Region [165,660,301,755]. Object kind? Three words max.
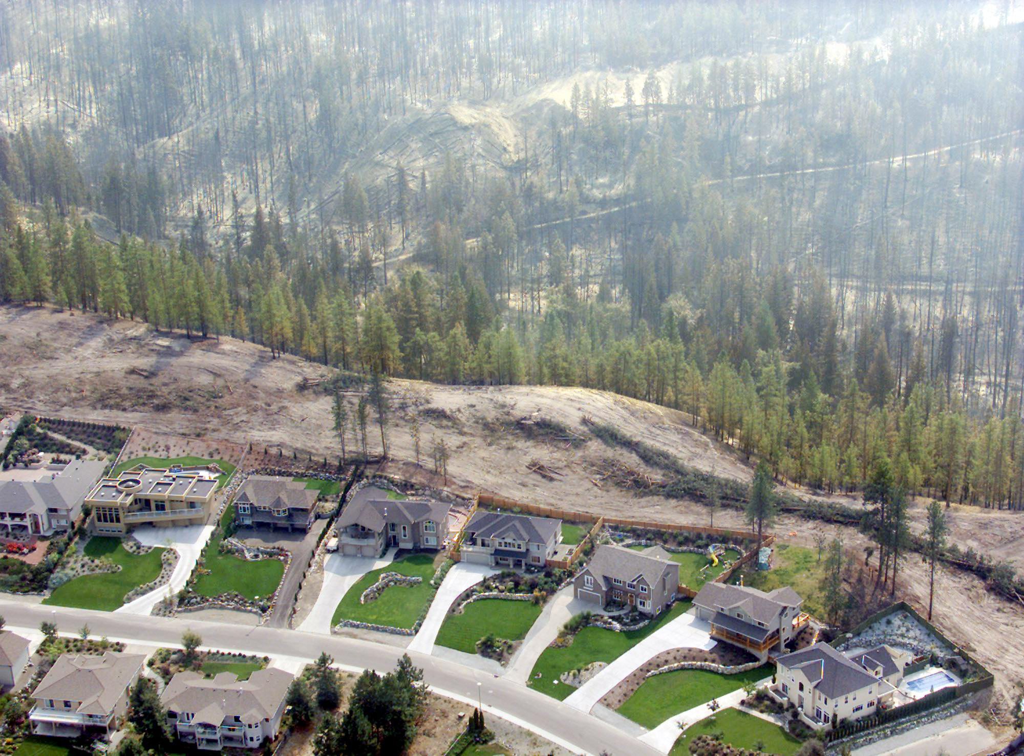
house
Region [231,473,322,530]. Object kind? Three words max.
house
